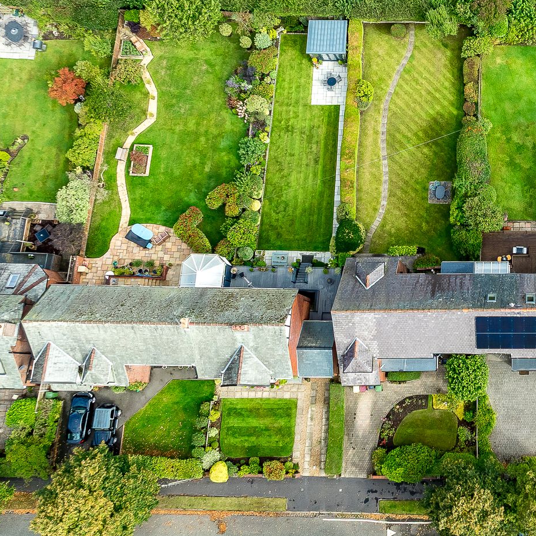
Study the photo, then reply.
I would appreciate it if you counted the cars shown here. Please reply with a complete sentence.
The photo contains 2 cars.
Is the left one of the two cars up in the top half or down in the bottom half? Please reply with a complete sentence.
It is in the bottom half that the left one of the two cars appears.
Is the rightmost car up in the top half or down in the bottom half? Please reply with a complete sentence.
The rightmost car is in the bottom half of the image.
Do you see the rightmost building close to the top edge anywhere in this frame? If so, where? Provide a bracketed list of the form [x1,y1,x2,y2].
[306,20,349,60]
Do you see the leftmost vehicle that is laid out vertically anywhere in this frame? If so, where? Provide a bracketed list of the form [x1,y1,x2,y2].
[64,392,98,447]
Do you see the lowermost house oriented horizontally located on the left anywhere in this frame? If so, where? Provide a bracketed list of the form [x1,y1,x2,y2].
[21,285,311,388]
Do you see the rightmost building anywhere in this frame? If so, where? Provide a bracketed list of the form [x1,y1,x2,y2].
[332,258,536,385]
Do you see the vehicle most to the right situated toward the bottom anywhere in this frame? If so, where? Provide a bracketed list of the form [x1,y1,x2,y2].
[90,399,122,448]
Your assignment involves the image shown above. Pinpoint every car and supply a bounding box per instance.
[90,399,122,448]
[64,392,98,447]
